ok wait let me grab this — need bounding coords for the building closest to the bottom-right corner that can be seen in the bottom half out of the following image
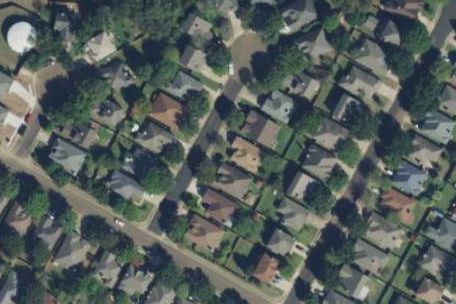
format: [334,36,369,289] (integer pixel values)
[414,274,446,304]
